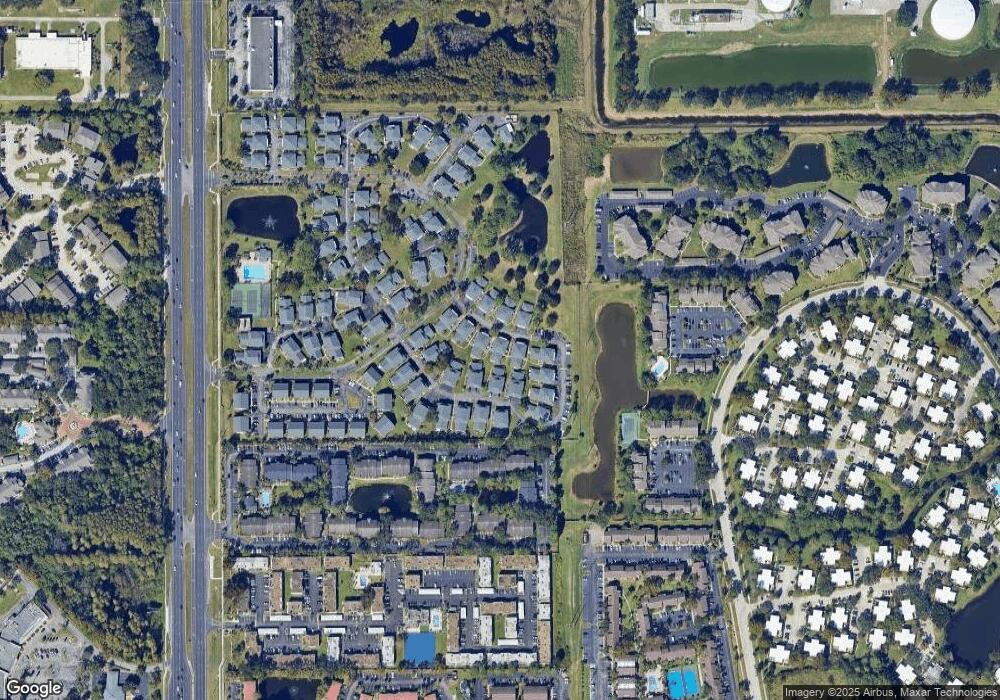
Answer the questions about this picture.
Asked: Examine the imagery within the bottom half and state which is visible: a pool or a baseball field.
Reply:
pool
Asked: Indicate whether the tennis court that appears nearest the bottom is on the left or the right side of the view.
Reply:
right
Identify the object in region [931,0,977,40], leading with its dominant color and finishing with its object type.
white storage tank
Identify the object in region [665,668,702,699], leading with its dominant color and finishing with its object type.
blue tennis court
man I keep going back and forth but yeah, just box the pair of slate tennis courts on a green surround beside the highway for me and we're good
[231,284,261,317]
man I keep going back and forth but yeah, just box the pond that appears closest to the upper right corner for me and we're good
[900,47,1000,87]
